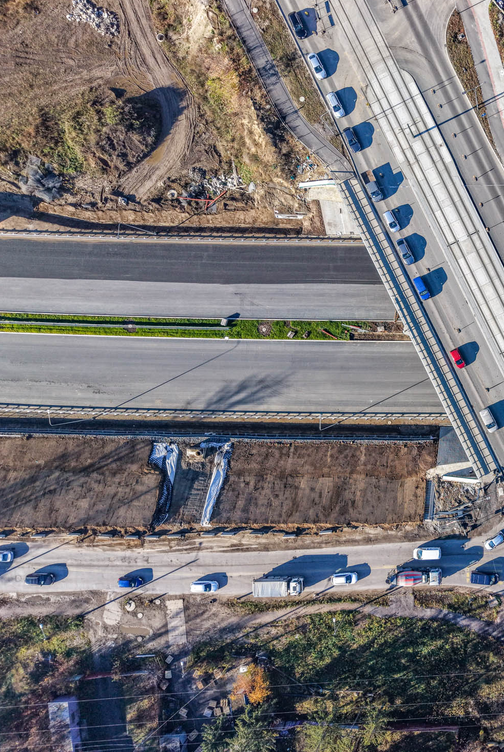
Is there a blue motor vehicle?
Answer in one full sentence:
Yes, I can see a blue motor vehicle in this picture.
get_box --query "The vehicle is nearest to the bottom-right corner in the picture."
[469,569,499,586]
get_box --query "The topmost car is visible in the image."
[287,10,309,41]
